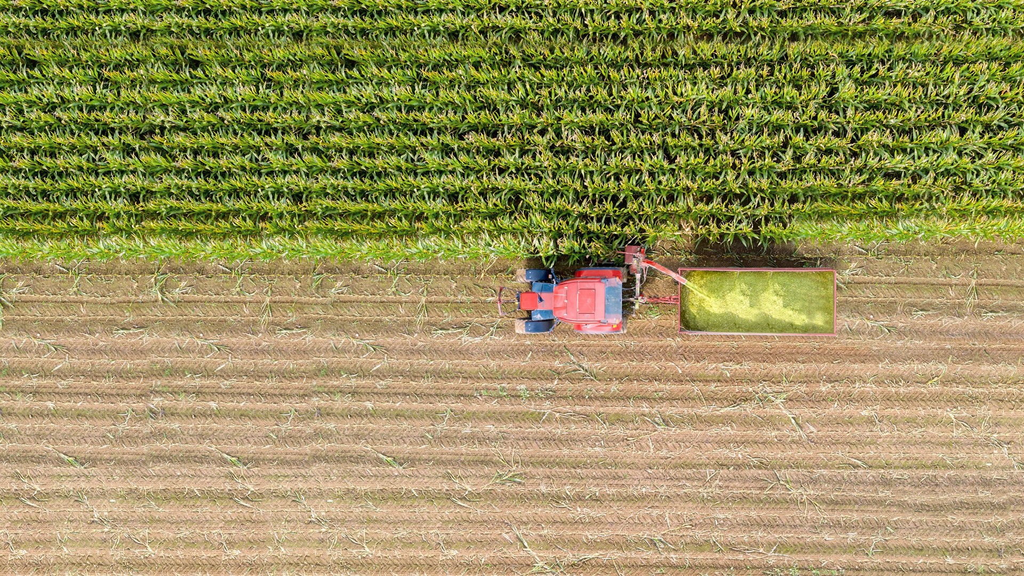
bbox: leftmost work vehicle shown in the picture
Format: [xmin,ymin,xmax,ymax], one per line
[497,266,632,335]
